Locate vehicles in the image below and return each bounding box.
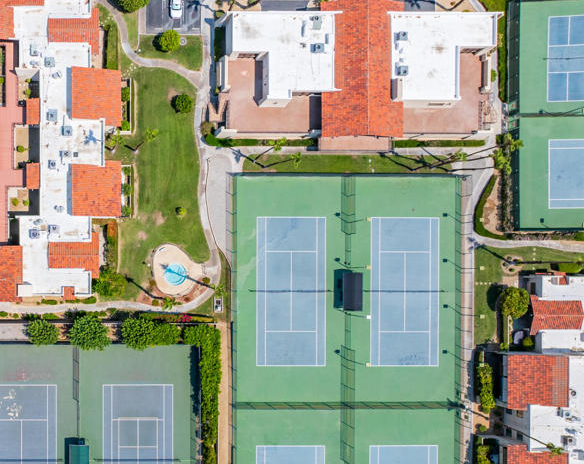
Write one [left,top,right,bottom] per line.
[170,0,185,18]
